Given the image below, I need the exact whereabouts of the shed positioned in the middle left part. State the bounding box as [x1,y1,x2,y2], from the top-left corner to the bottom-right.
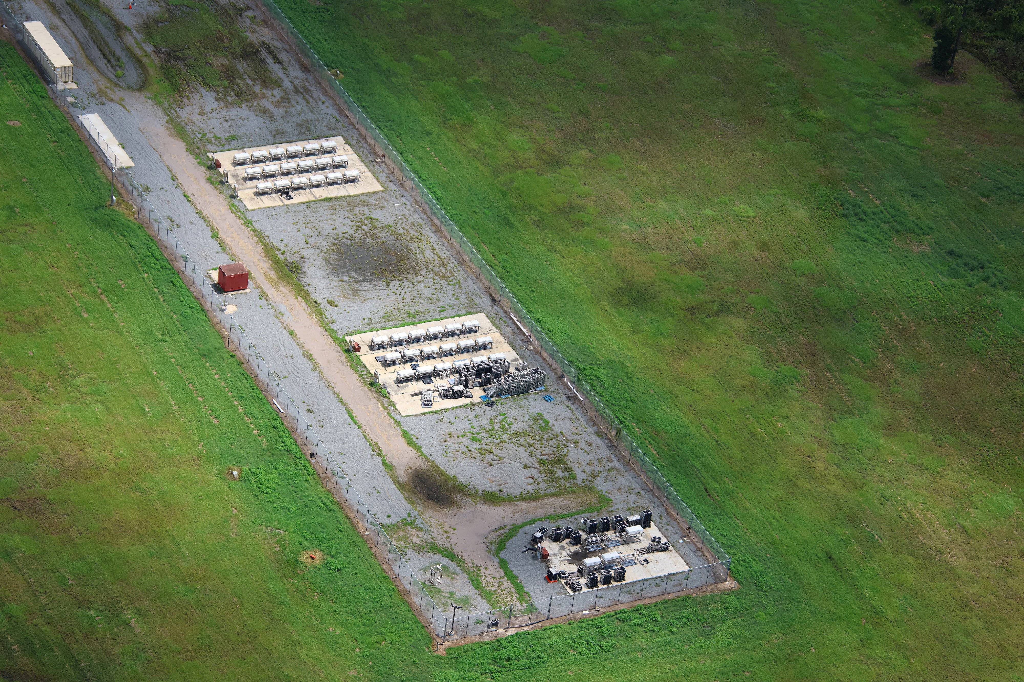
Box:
[218,262,249,292]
